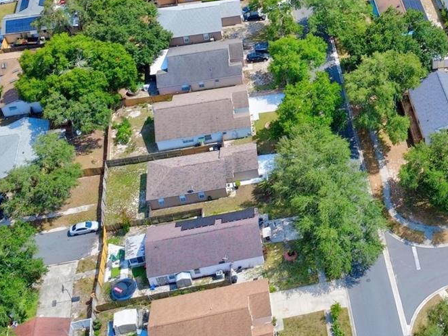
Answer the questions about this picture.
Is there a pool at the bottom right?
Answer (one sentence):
No, looking at the bottom right, there is no pool.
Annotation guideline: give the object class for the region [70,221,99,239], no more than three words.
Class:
car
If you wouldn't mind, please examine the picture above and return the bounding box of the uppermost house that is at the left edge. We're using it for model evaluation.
[0,0,68,43]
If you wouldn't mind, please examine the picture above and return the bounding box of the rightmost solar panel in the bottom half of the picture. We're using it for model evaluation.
[222,208,254,222]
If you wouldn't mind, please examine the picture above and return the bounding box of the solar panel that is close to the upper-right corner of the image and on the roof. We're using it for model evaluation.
[400,0,426,17]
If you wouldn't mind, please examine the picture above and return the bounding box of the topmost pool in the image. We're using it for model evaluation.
[110,276,139,302]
